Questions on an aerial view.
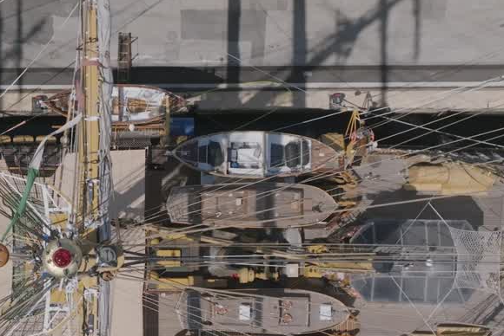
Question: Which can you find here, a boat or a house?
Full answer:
The image shows a boat.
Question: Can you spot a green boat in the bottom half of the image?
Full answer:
No, there's no green boat to be seen in the bottom half of the image.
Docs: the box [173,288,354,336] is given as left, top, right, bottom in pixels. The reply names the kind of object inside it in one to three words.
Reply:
boat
